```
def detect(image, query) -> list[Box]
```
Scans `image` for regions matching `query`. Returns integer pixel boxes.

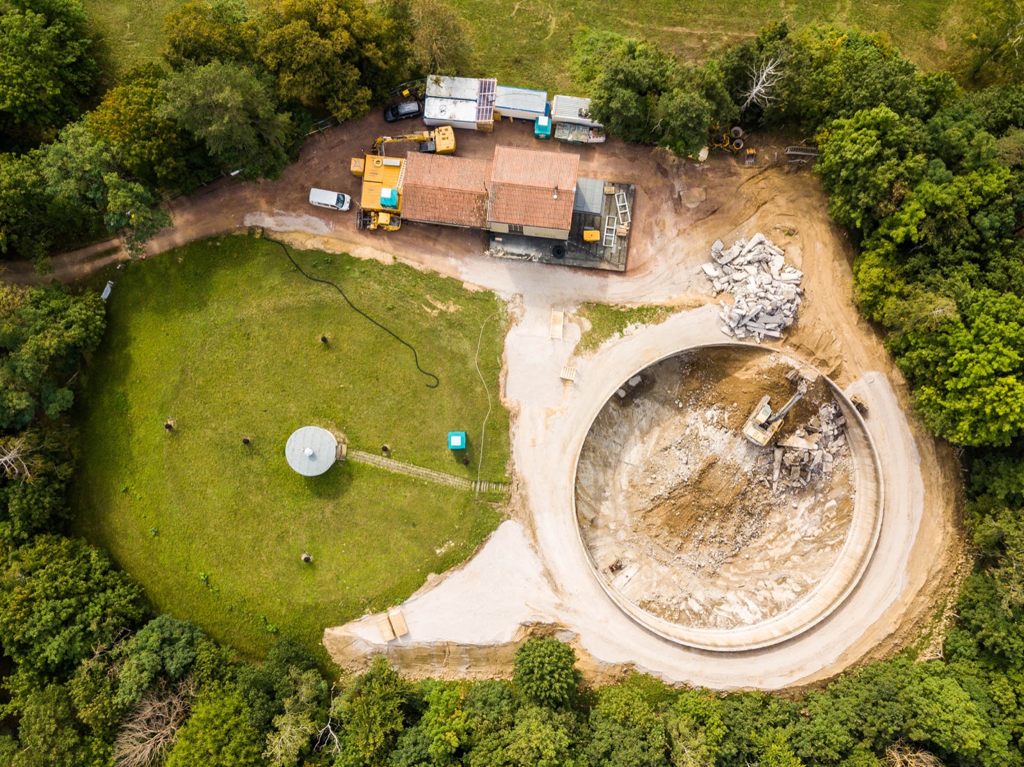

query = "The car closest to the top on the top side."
[382,96,422,122]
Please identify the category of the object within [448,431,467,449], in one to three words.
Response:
building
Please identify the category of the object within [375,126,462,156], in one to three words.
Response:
work vehicle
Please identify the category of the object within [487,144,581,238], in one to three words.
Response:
house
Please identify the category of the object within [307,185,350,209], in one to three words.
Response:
vehicle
